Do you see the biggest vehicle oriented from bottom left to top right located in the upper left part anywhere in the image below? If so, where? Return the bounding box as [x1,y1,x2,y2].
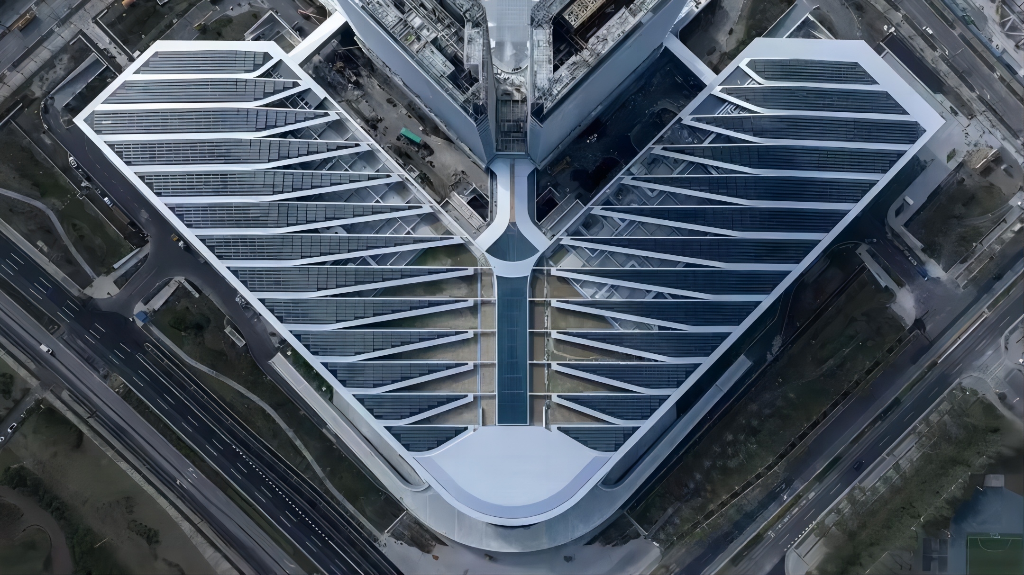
[6,12,37,34]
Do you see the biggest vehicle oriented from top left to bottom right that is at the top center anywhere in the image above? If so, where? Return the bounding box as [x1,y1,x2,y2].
[398,125,423,145]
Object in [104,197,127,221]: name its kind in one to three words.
truck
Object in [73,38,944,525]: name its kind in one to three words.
building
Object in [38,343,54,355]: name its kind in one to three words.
vehicle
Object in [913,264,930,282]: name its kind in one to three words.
vehicle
